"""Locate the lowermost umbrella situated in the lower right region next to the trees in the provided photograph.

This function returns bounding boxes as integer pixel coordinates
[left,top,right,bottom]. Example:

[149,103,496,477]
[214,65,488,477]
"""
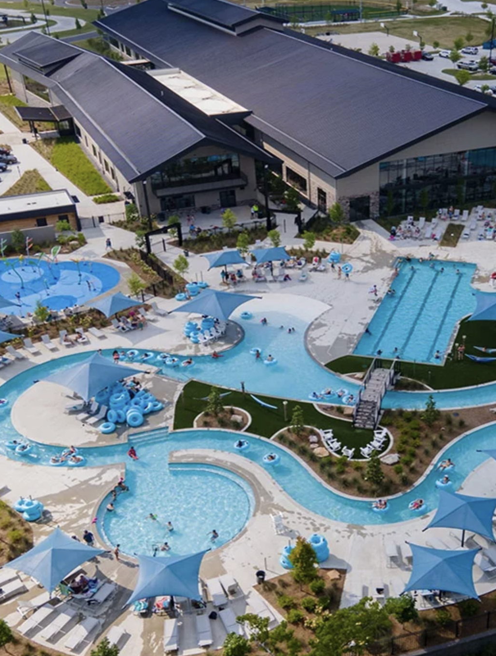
[399,540,484,604]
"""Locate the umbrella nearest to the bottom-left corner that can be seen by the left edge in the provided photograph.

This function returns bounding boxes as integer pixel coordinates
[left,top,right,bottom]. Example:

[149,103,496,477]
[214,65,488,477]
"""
[0,525,114,603]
